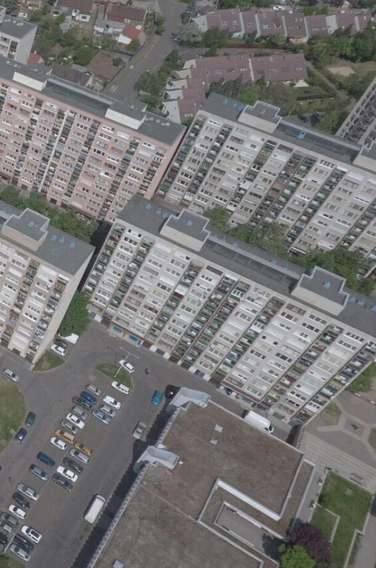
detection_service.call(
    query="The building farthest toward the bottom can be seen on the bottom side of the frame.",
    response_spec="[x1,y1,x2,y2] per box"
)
[93,387,316,568]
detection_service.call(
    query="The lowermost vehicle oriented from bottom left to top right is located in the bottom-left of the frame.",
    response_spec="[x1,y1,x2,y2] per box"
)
[83,498,105,522]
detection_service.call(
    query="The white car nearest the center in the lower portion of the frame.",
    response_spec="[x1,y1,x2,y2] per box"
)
[115,359,137,374]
